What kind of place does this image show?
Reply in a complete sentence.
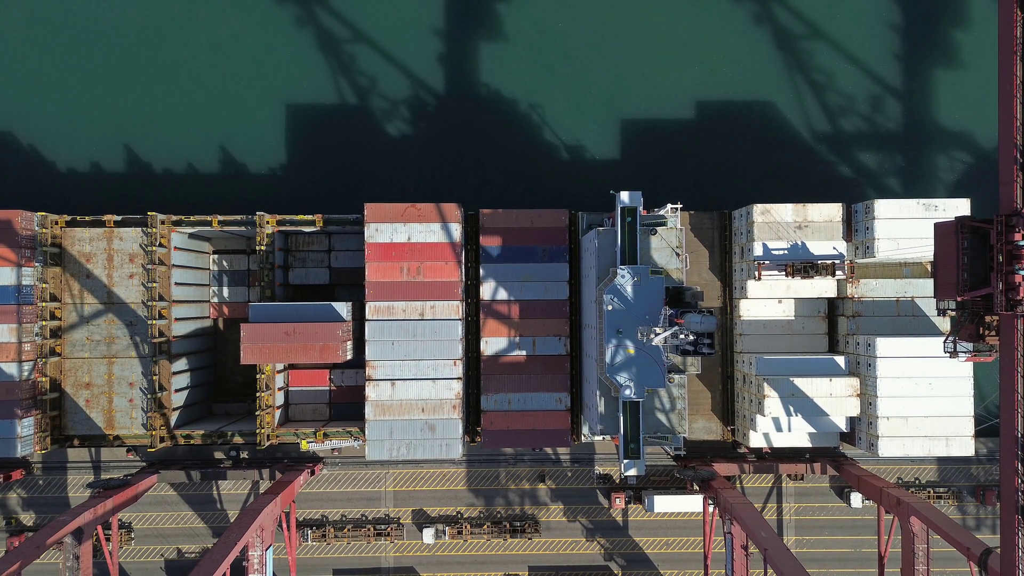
The picture captures a port.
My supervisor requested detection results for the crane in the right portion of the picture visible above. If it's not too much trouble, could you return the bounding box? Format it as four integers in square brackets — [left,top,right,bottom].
[666,0,1024,576]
